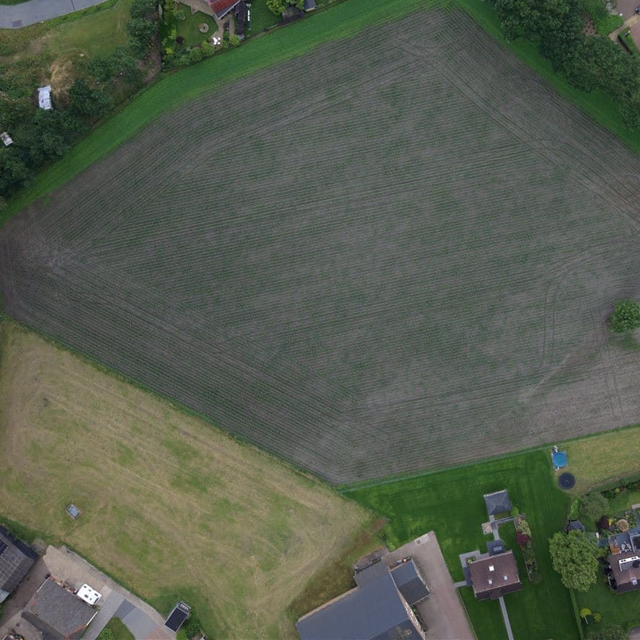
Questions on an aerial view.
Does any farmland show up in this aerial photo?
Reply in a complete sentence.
Yes, there's farmland in this view.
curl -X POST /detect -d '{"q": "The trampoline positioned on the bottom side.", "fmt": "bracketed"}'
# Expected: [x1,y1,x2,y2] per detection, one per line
[558,472,575,489]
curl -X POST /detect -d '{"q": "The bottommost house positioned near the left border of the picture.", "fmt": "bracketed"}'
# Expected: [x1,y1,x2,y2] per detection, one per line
[16,575,101,640]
